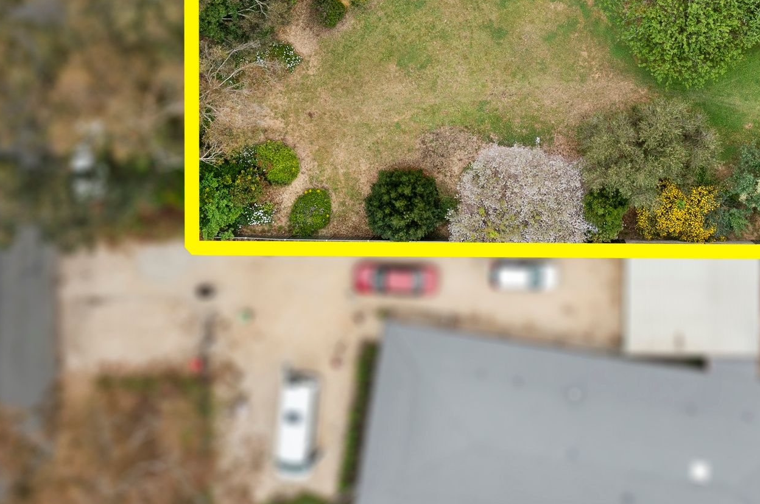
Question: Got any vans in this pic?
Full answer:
Yes, there's a van down there.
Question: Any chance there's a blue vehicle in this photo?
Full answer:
No, no blue vehicle is visible in the view.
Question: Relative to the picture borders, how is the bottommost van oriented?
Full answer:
Seen from above, the bottommost van lies vertically.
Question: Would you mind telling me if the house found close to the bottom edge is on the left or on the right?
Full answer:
The house found close to the bottom edge appears in the right half of the scene.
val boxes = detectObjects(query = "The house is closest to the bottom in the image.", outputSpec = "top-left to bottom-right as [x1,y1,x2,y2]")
[356,320,760,504]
